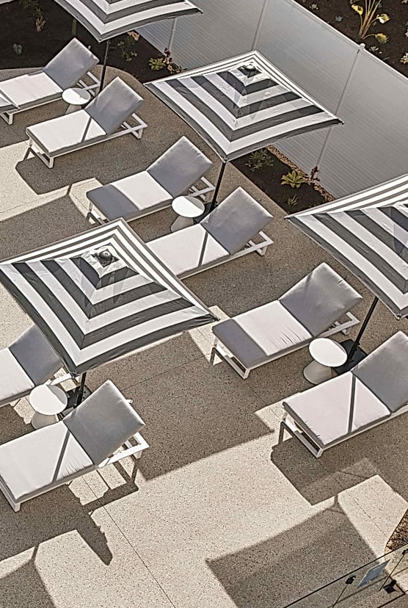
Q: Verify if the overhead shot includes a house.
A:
No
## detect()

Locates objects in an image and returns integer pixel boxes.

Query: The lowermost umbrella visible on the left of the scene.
[0,216,221,418]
